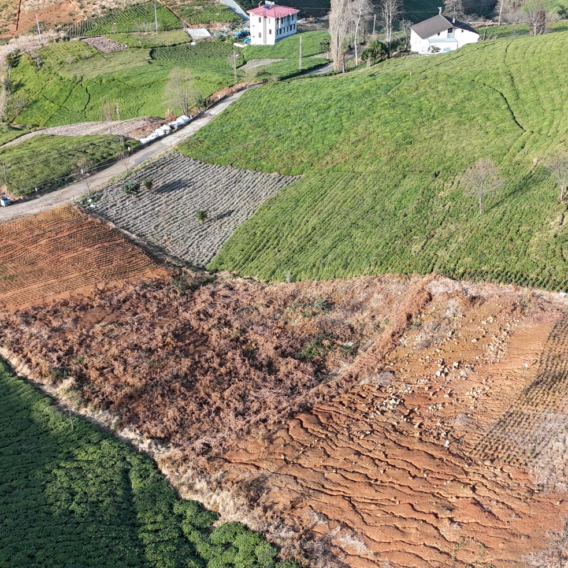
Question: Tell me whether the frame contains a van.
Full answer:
No, no van is visible in the scene.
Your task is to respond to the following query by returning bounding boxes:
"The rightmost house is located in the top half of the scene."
[409,0,486,53]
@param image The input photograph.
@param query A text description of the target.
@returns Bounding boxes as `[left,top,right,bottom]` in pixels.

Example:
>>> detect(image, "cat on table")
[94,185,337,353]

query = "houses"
[243,0,301,44]
[409,0,486,53]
